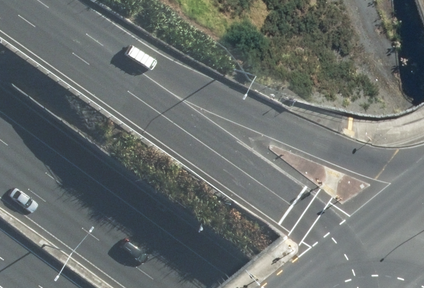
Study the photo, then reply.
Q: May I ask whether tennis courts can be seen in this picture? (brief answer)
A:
No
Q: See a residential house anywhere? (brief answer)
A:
No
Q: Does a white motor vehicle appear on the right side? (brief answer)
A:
No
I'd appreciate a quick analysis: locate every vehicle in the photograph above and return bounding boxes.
[120,237,149,262]
[124,44,157,70]
[8,187,38,212]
